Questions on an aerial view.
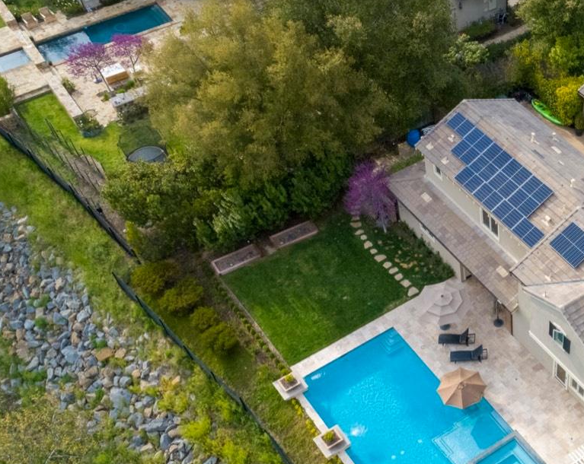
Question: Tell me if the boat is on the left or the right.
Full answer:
The boat is on the right side of the image.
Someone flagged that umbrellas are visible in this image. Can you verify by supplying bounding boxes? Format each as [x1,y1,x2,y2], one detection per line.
[437,372,489,418]
[419,289,469,334]
[494,300,503,326]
